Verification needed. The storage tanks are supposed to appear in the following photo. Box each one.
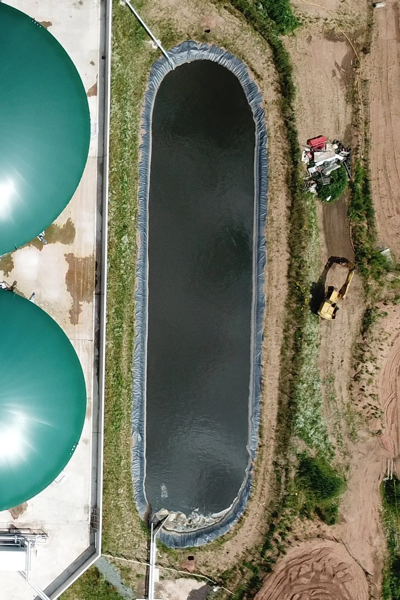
[0,0,100,263]
[0,288,86,512]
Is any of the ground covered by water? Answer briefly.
Yes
